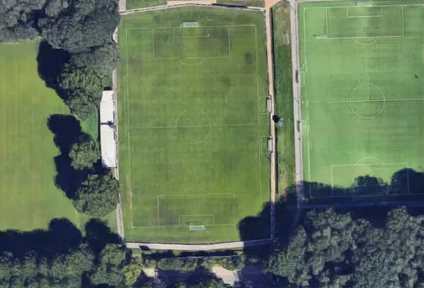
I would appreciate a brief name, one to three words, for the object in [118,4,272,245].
soccer field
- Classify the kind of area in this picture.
sports ground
